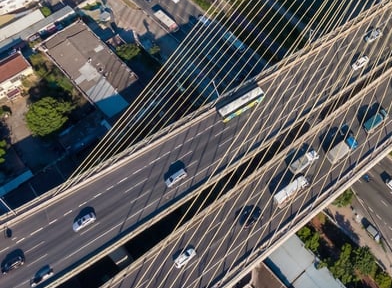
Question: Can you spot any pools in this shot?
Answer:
No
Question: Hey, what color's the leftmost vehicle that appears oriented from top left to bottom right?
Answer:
white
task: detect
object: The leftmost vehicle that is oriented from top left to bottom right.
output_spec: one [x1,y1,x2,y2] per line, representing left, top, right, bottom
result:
[151,7,176,30]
